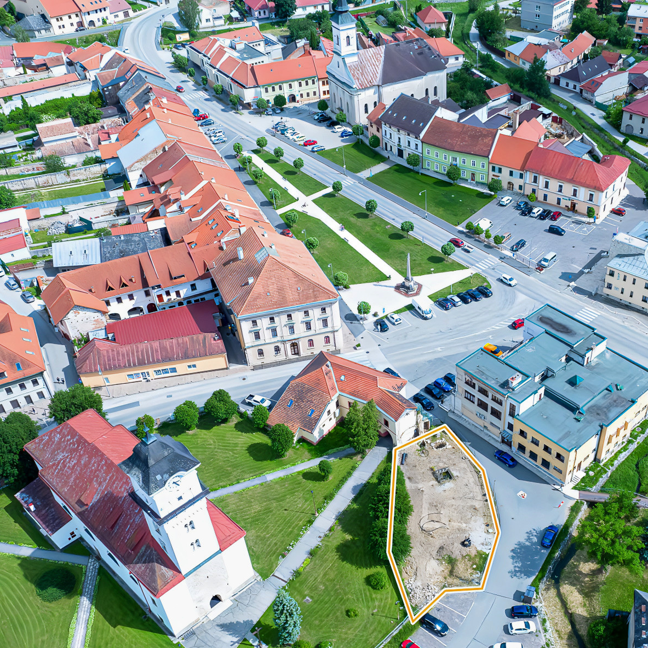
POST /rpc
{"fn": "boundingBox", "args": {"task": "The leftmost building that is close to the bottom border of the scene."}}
[0,408,258,640]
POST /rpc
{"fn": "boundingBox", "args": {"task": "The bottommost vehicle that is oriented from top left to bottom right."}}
[418,610,451,638]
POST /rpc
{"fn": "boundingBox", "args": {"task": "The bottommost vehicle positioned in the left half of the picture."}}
[245,392,273,408]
